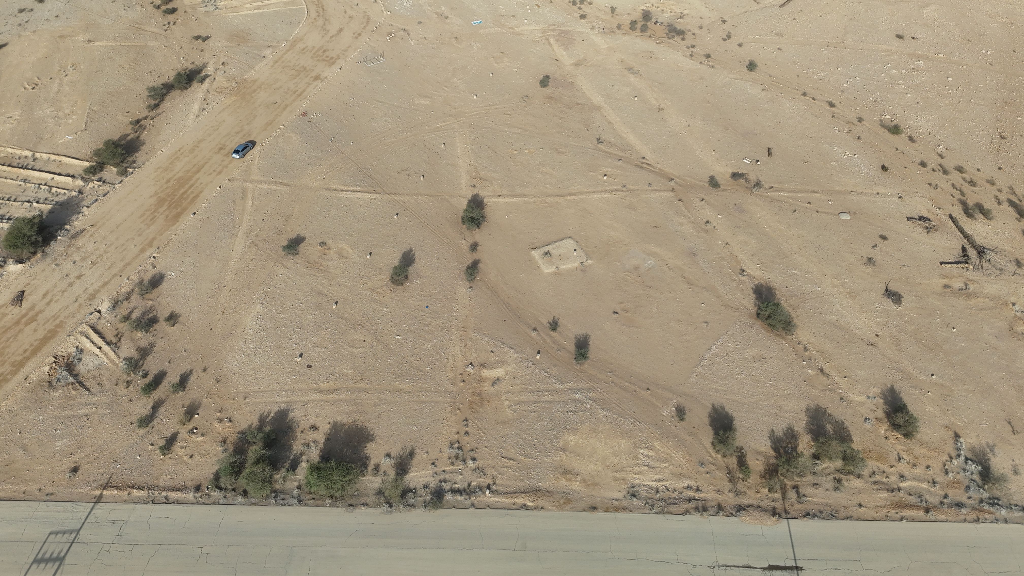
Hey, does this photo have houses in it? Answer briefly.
No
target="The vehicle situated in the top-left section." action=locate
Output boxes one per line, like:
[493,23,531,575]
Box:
[231,143,253,159]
